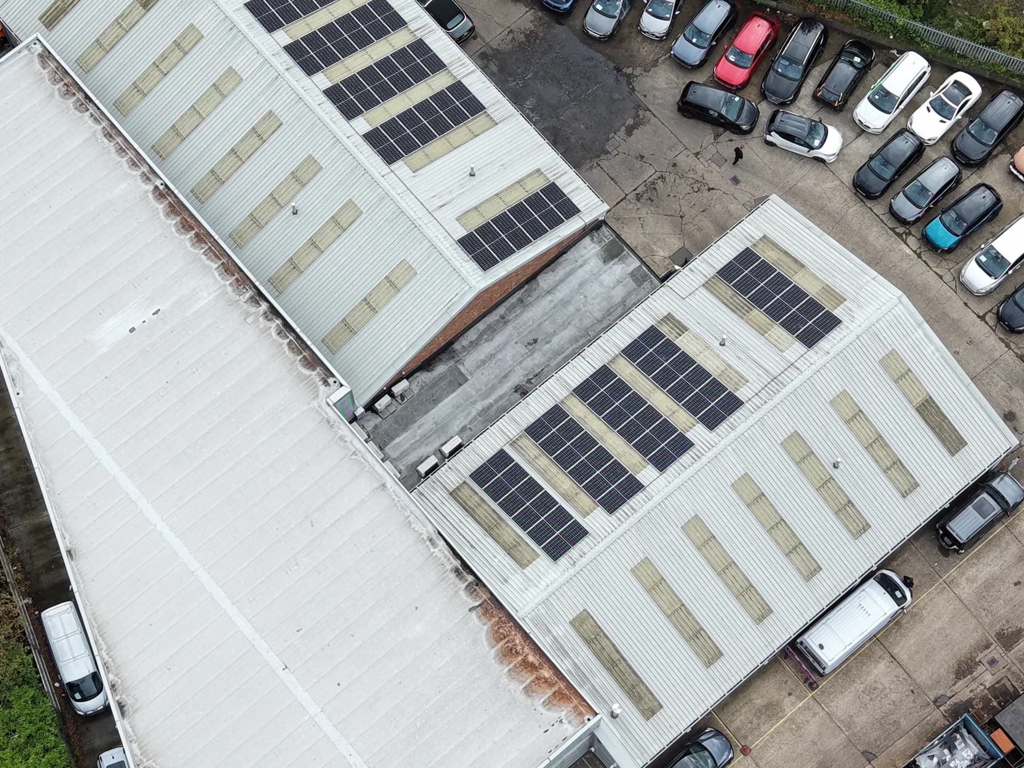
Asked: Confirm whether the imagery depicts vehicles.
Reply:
Yes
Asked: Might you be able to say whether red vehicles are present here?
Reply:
Yes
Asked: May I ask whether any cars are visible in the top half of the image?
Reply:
Yes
